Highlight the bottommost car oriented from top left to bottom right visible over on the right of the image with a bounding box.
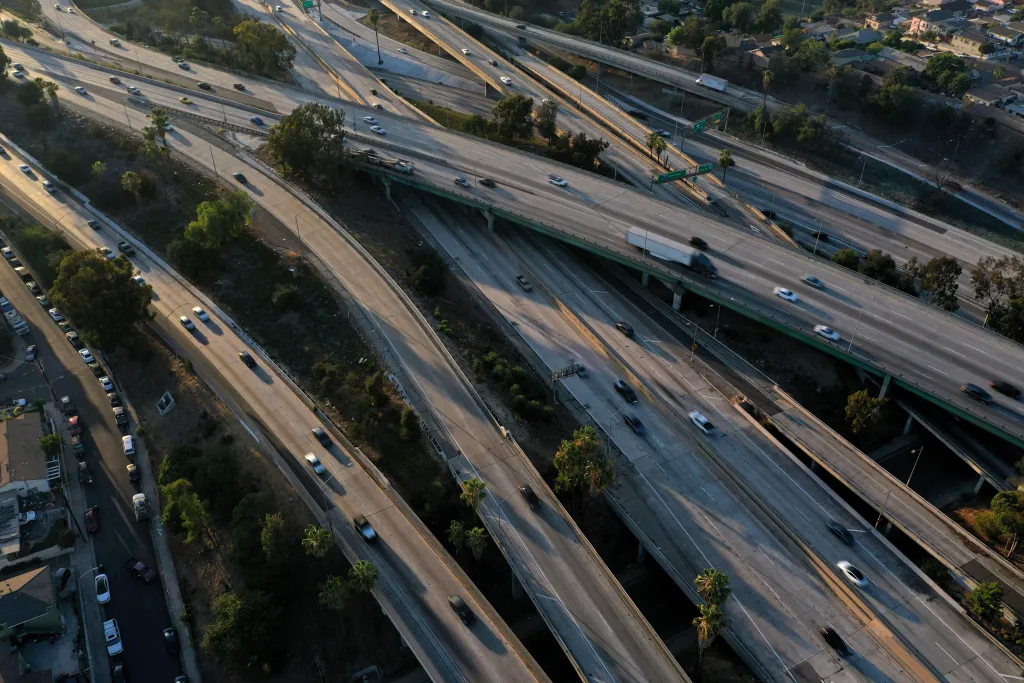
[814,619,857,663]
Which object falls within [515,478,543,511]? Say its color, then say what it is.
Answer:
black car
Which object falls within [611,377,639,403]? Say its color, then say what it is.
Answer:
black truck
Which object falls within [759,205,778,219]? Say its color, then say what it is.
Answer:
black car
